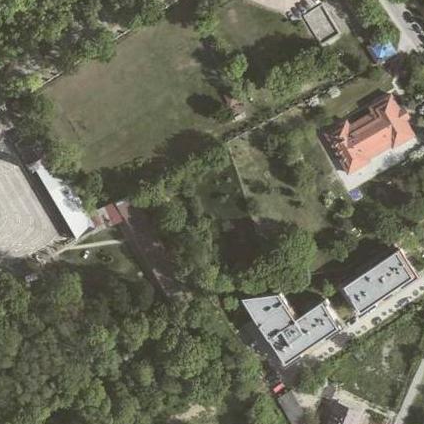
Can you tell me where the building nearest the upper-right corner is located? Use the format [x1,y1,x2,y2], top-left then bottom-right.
[369,42,398,62]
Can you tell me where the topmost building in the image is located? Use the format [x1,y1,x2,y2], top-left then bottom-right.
[304,4,339,42]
